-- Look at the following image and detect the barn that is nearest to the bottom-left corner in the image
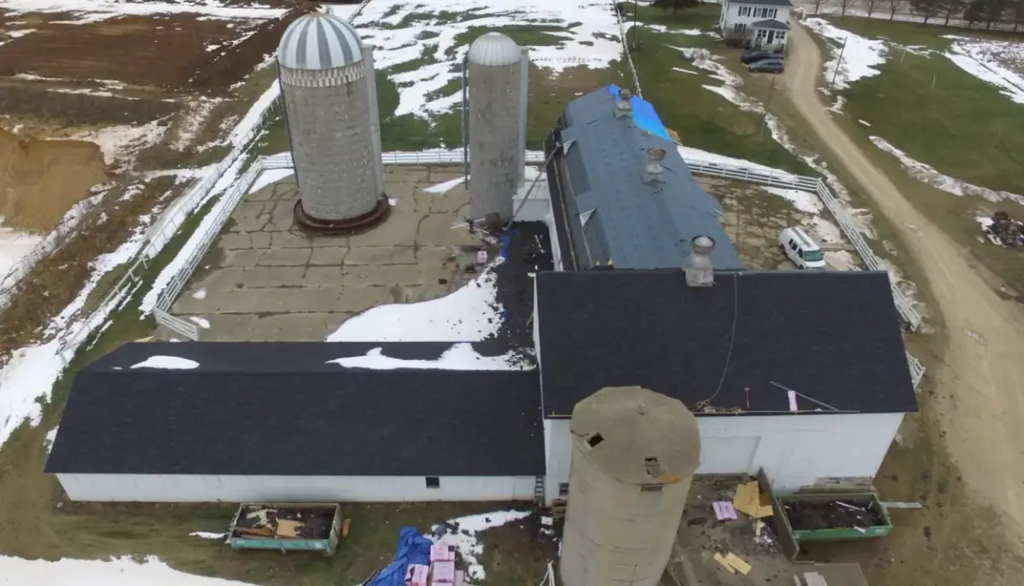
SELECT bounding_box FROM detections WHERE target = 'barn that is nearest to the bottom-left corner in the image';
[45,343,544,501]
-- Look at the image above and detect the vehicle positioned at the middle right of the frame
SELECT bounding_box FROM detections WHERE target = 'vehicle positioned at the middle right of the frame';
[776,227,831,269]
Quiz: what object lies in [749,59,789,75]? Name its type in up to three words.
car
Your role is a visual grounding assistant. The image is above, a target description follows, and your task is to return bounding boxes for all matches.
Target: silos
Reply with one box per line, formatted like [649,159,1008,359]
[463,32,528,224]
[566,388,704,586]
[273,10,389,224]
